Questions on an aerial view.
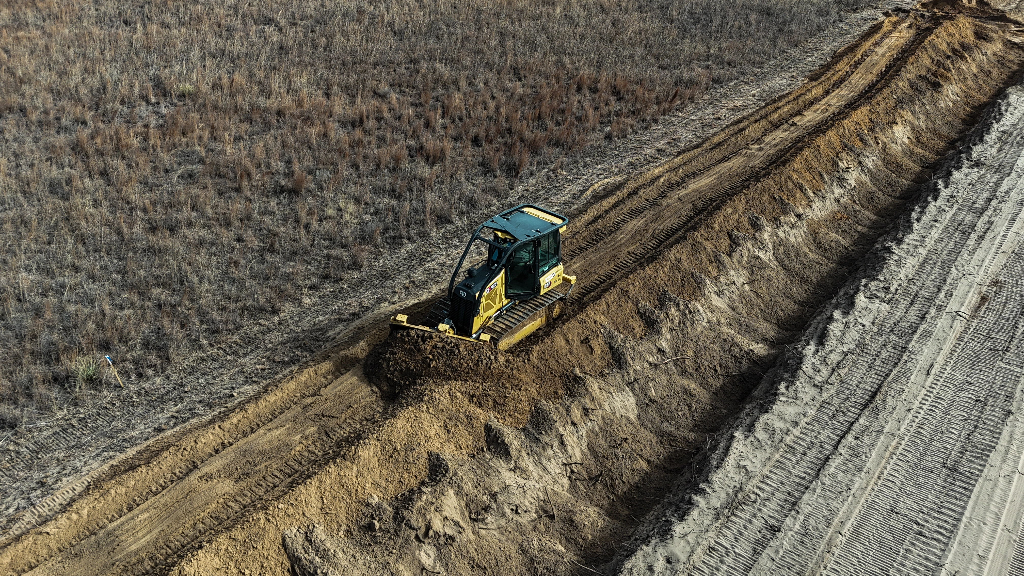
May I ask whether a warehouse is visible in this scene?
No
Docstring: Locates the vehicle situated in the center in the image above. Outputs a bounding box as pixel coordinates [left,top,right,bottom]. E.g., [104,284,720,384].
[389,201,580,353]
